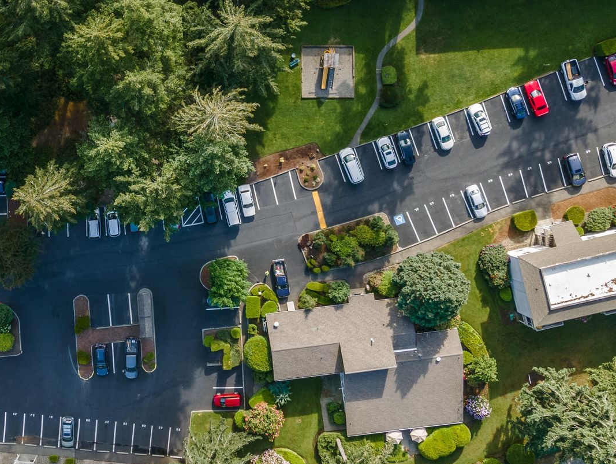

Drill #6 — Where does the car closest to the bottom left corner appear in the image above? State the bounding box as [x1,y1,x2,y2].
[58,415,75,447]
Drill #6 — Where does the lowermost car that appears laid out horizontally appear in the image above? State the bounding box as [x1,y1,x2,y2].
[211,392,244,408]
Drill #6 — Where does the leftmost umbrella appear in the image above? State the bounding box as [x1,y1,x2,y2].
[384,430,402,444]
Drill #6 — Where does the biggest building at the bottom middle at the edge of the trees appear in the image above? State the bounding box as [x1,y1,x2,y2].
[265,293,464,437]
